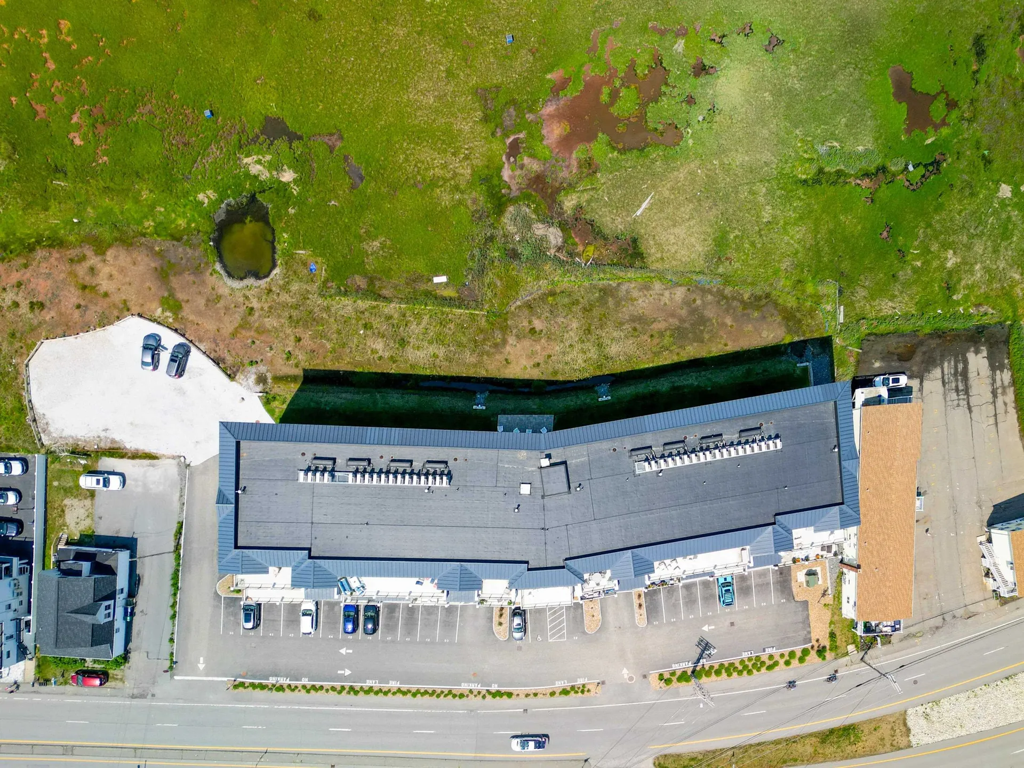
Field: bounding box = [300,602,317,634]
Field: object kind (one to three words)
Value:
car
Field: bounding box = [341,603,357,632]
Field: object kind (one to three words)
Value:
car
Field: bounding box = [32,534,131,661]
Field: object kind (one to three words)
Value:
house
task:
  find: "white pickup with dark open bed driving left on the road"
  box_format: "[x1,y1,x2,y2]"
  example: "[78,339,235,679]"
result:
[510,732,548,752]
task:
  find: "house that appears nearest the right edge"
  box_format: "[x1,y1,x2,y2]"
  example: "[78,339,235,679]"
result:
[978,514,1024,600]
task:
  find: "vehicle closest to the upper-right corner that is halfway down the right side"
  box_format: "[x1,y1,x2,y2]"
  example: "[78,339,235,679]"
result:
[871,373,907,388]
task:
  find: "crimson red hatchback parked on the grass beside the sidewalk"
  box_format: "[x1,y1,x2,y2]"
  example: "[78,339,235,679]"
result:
[73,669,107,686]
